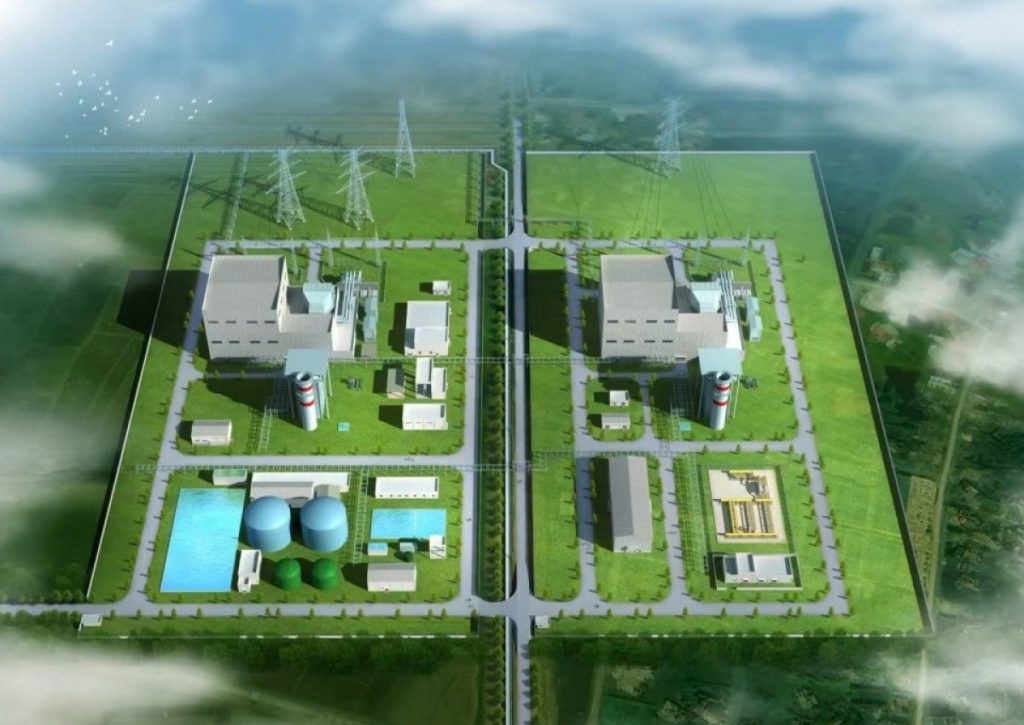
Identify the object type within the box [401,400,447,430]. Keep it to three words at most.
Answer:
building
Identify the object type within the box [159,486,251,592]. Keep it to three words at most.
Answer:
swimming pool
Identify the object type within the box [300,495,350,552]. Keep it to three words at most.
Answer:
storage tank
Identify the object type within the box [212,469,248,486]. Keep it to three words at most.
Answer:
house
